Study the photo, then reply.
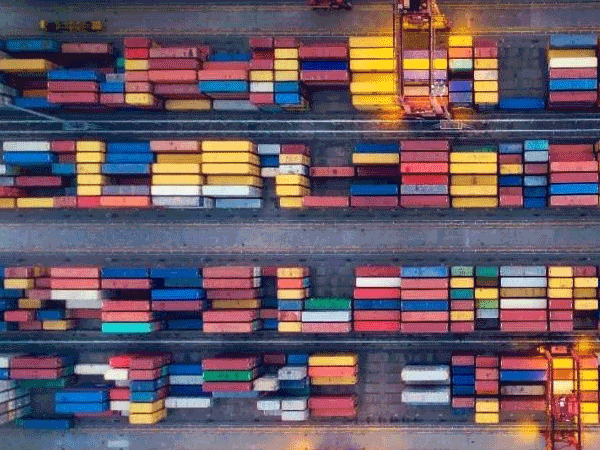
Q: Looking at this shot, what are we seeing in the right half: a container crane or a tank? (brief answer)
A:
container crane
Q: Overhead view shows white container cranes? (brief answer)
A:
No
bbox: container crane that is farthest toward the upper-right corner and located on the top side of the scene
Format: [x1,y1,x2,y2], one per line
[391,0,447,115]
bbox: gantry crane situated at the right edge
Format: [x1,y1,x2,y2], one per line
[535,345,586,450]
